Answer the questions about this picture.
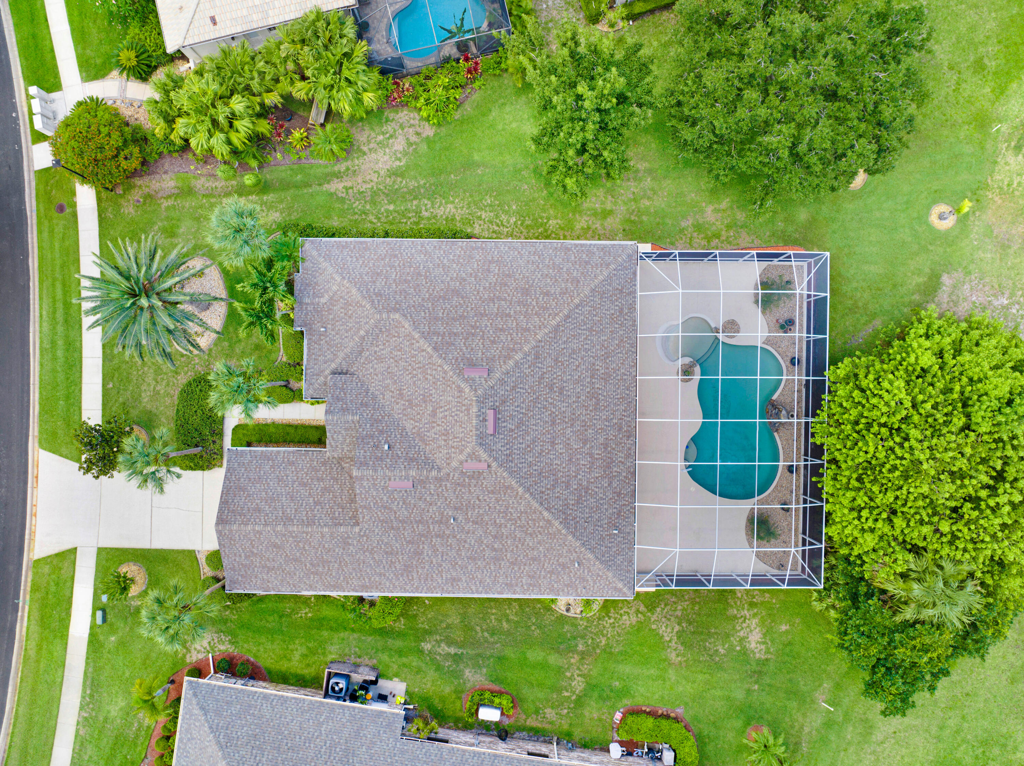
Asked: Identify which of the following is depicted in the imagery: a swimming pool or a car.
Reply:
swimming pool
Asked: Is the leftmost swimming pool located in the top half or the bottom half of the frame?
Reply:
top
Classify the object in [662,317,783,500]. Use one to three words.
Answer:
swimming pool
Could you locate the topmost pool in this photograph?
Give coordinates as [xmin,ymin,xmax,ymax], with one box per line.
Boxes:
[390,0,486,57]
